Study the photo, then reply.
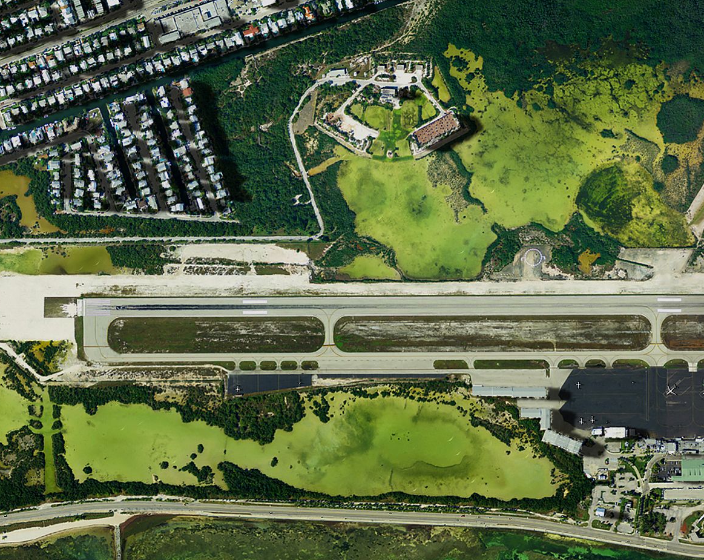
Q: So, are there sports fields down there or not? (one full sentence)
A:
No, no sports field is visible in the view.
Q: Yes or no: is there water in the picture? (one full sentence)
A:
Yes, water can be seen from above here.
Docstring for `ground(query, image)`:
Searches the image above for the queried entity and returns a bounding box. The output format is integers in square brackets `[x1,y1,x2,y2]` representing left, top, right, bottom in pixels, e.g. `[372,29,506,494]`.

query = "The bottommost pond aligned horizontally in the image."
[61,386,554,501]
